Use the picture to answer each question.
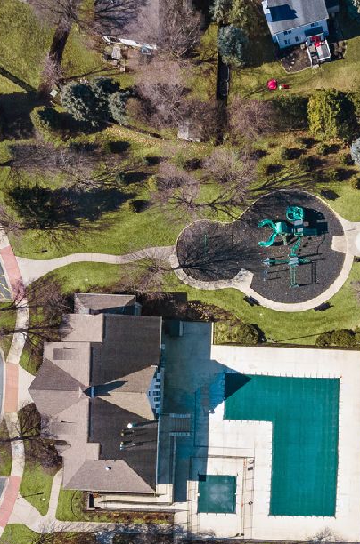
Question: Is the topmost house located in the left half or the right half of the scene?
right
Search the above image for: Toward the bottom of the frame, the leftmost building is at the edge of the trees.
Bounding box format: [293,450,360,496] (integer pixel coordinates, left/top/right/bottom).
[27,294,170,491]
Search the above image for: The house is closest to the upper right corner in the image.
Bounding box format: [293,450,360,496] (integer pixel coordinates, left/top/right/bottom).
[255,0,346,49]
